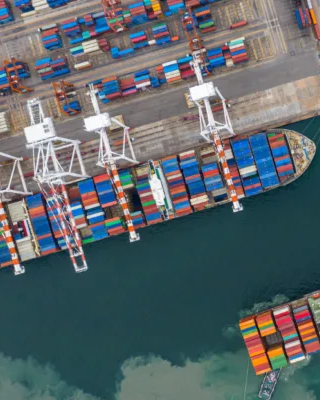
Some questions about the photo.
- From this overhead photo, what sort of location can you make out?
port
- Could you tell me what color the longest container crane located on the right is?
white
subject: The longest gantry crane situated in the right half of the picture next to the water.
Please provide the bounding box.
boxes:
[188,48,244,214]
